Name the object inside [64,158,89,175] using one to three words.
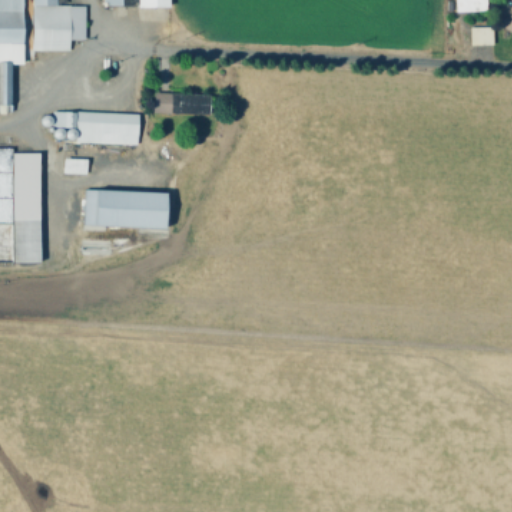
shed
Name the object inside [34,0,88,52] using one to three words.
building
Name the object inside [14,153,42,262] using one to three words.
barn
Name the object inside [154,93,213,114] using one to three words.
house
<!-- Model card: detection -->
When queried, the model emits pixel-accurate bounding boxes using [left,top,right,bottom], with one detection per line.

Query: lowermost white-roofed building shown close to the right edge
[472,27,495,46]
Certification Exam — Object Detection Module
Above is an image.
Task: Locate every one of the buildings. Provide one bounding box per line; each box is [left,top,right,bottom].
[34,0,88,52]
[140,0,172,8]
[106,0,138,6]
[54,112,140,146]
[84,191,170,232]
[0,0,26,64]
[0,148,14,262]
[154,93,213,114]
[472,27,495,46]
[64,158,89,175]
[457,0,490,13]
[14,153,42,262]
